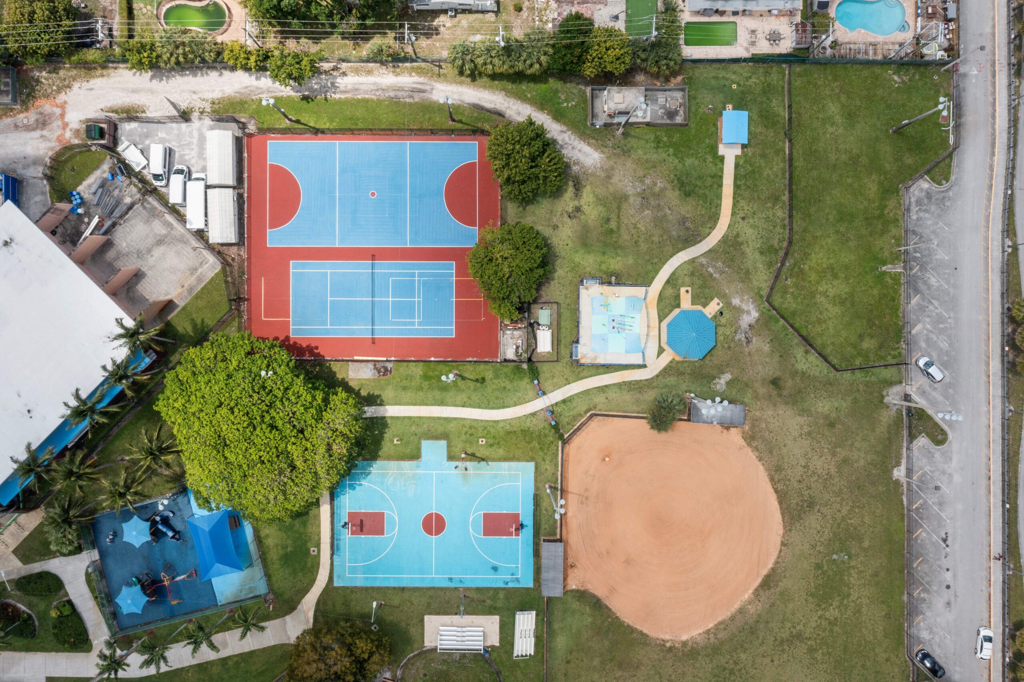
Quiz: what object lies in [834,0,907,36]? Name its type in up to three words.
swimming pool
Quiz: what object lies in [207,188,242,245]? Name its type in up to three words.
shed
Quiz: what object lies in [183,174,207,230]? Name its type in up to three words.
vehicle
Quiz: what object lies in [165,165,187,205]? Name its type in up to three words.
vehicle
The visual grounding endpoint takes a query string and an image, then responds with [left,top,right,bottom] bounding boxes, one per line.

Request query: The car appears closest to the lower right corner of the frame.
[974,628,996,663]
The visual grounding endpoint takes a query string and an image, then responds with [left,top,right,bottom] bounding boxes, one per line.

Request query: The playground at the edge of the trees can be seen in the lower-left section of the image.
[92,486,269,630]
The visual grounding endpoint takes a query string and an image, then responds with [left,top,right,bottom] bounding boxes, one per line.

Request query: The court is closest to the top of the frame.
[245,134,500,360]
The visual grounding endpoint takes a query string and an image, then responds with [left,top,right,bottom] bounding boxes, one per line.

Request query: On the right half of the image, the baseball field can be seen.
[564,415,783,641]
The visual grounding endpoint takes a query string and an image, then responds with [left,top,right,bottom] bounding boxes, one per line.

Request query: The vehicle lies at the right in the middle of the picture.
[916,356,945,384]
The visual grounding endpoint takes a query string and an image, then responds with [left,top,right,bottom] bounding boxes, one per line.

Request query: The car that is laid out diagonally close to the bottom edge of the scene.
[916,650,946,681]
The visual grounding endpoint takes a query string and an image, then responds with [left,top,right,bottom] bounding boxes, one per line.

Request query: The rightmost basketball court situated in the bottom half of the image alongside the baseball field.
[333,439,536,589]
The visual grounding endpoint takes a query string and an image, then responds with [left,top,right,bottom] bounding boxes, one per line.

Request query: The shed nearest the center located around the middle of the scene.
[537,330,552,352]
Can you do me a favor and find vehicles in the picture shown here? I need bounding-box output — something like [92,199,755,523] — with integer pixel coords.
[974,628,996,663]
[916,650,946,681]
[165,165,187,205]
[183,174,207,230]
[147,141,167,184]
[916,356,945,384]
